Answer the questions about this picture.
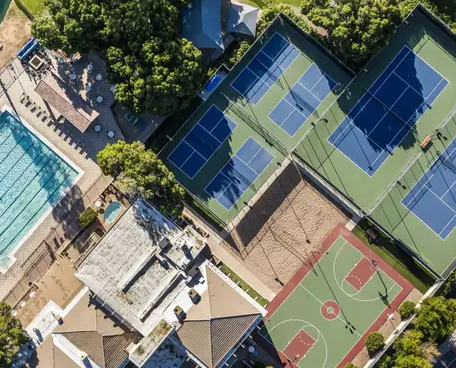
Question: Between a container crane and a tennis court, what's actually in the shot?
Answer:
tennis court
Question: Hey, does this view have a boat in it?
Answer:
No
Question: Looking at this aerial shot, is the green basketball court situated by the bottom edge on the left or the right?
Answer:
right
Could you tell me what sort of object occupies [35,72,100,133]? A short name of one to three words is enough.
building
